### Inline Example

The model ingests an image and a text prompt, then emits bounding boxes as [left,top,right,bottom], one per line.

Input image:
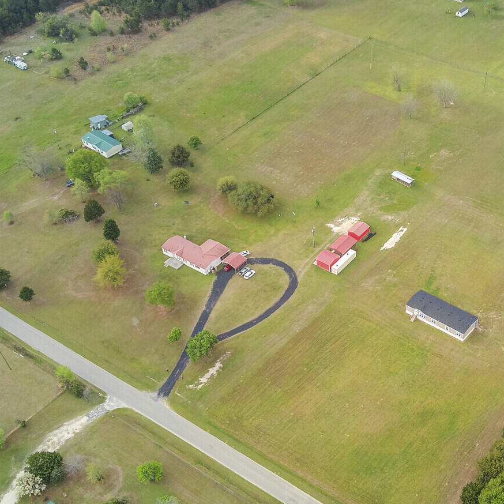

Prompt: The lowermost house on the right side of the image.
[406,290,478,341]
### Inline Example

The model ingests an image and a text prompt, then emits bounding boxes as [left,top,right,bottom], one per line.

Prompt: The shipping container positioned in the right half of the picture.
[331,249,357,275]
